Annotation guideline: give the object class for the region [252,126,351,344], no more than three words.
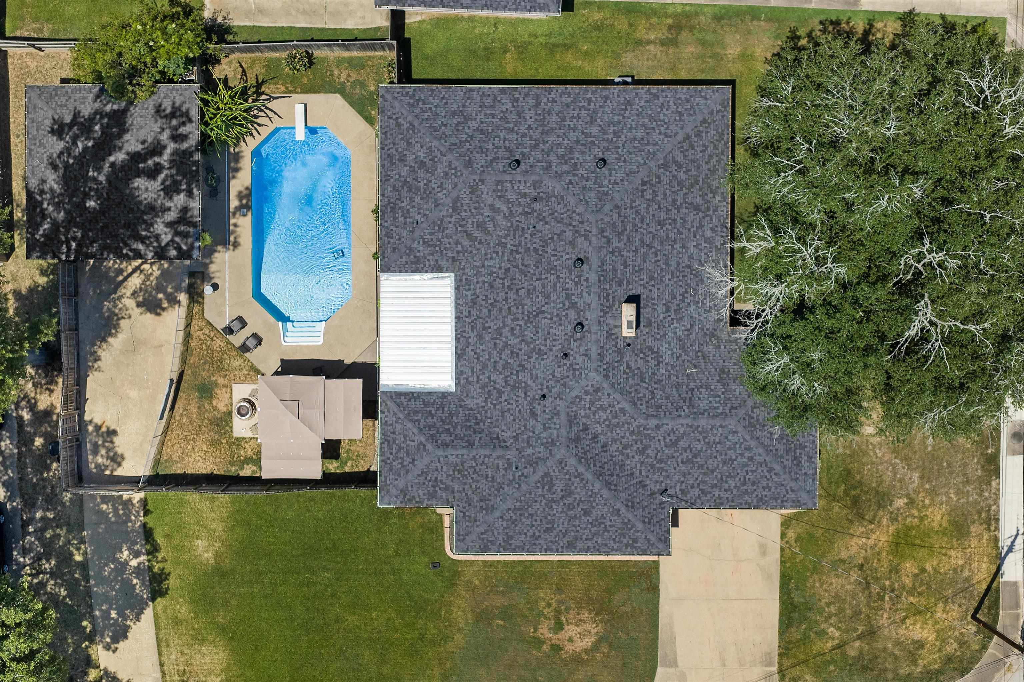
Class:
swimming pool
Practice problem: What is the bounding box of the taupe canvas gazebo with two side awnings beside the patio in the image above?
[257,370,369,479]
